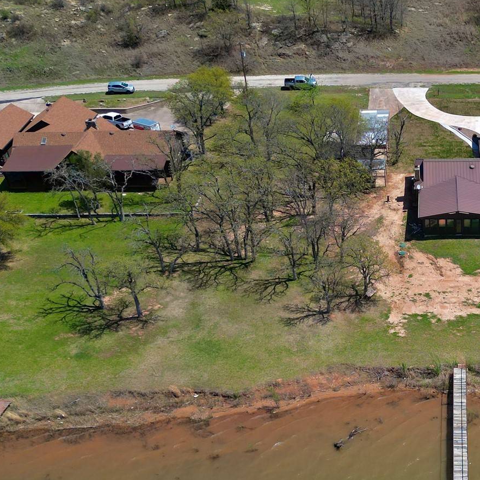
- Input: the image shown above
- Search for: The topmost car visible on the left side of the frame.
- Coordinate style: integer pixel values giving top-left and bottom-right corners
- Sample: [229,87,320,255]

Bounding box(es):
[103,82,135,95]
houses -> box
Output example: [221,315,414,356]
[0,97,189,189]
[409,146,480,239]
